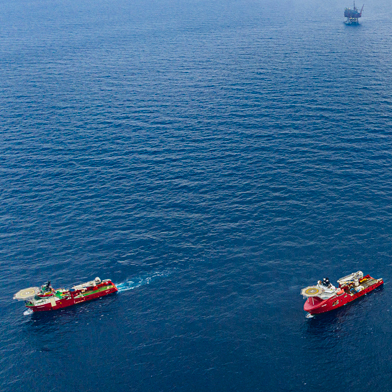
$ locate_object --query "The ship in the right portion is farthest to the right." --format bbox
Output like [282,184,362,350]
[302,271,382,314]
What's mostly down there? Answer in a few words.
water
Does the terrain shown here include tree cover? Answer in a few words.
No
